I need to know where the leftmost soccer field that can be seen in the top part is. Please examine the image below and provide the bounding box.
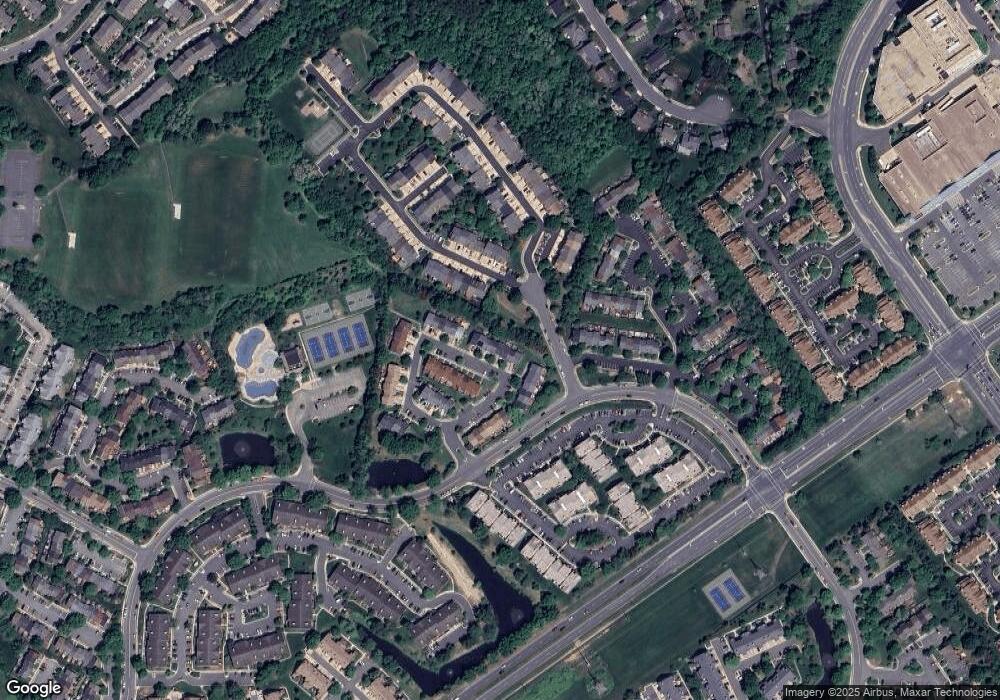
[79,191,165,299]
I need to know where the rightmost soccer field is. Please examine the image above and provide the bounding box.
[182,150,254,287]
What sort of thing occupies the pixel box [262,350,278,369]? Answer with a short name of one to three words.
swimming pool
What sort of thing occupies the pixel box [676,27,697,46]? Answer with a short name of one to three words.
house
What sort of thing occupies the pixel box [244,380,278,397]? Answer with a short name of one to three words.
swimming pool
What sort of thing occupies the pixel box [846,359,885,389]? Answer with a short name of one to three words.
building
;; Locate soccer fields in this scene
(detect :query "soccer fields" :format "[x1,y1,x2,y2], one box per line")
[79,191,165,299]
[182,150,254,287]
